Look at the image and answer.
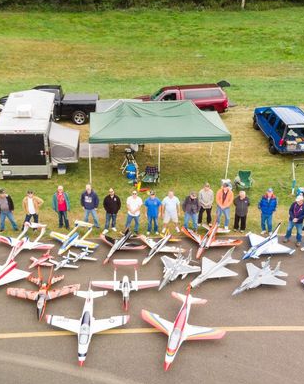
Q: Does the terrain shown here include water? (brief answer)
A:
No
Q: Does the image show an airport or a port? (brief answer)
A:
airport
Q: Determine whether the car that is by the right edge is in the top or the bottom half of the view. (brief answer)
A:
top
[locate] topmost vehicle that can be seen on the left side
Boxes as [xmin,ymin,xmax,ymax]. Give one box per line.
[33,80,102,125]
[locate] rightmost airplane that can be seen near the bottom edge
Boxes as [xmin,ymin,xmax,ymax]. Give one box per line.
[142,281,229,370]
